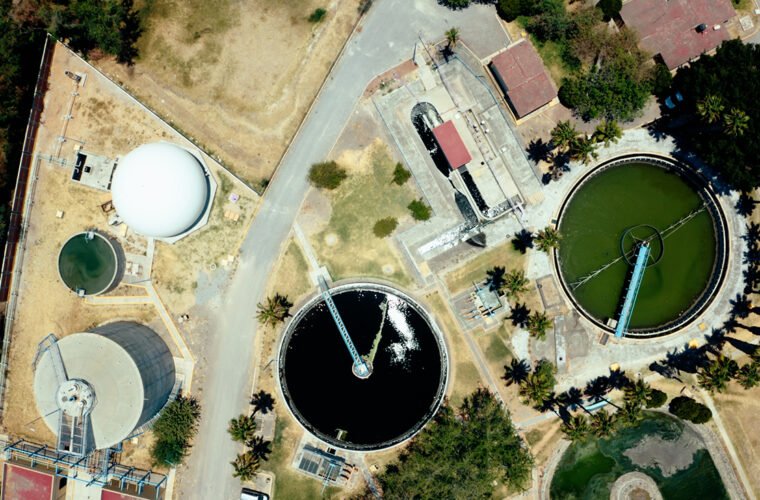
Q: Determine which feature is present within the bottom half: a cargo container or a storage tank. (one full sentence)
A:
Visible within the bottom half is a storage tank.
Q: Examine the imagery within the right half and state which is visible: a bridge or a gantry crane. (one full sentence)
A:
Looking within the right half, you will find a bridge.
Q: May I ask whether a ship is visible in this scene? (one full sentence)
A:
No, the scene contains no ship.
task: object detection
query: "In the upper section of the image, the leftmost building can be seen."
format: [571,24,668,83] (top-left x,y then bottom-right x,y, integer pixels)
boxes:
[478,39,560,128]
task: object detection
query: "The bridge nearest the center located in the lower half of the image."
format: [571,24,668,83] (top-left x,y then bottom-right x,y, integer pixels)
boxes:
[315,282,364,373]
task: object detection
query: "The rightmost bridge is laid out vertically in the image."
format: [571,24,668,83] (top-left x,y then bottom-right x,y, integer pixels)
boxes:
[613,237,651,340]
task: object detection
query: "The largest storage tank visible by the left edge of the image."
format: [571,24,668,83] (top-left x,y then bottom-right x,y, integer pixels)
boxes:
[24,318,180,458]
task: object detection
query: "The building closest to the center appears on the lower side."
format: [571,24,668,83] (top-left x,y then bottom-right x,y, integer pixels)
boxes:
[451,279,512,330]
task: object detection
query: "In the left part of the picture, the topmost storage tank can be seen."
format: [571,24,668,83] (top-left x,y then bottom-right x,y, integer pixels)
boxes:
[57,231,128,295]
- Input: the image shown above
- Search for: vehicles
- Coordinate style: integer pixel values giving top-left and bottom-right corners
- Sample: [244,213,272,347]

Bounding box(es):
[239,489,272,500]
[662,86,691,112]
